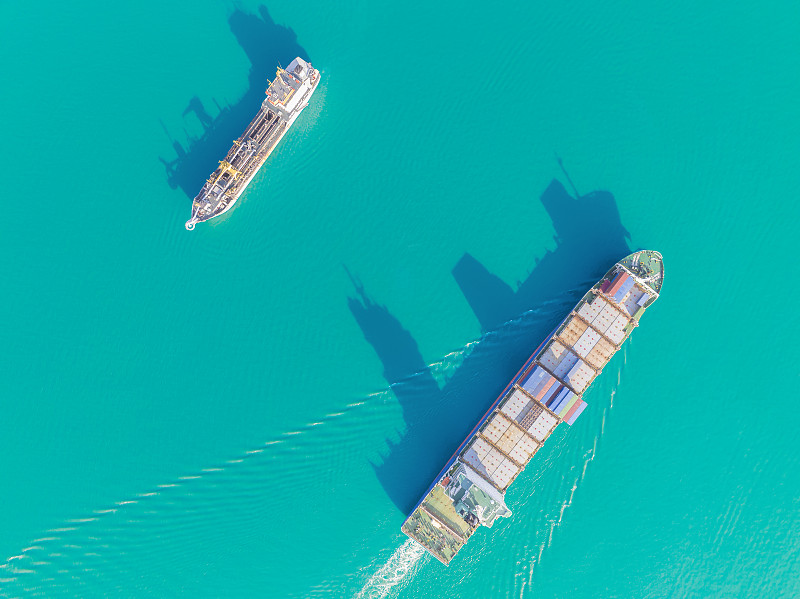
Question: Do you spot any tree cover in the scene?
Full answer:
No, there is no tree cover in the image.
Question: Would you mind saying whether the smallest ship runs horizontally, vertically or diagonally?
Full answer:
In this picture, the smallest ship is oriented diagonally.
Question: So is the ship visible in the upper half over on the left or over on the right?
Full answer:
The ship visible in the upper half sits on the left side.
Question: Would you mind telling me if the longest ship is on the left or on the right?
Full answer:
You can find the longest ship on the right side of the picture.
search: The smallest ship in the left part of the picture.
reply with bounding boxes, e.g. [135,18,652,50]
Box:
[187,55,322,229]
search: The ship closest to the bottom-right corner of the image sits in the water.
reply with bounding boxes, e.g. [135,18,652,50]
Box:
[401,250,665,565]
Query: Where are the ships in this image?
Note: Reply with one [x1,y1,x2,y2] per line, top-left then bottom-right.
[401,250,665,565]
[187,55,322,229]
